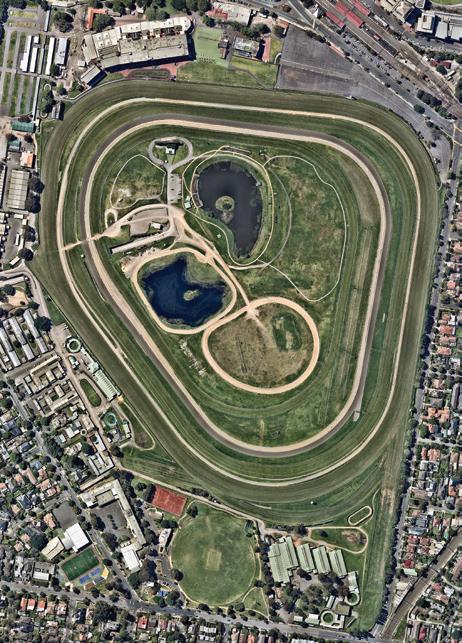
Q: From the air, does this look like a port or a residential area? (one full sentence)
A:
This looks like a residential area.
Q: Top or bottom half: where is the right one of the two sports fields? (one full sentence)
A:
The right one of the two sports fields sits in the bottom half of the picture.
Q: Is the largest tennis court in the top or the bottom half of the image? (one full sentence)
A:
Seen from above, the largest tennis court lies in the bottom half of the view.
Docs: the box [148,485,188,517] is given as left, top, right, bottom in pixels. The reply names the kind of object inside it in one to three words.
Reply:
tennis court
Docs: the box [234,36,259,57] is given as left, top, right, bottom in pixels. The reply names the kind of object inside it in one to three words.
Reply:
building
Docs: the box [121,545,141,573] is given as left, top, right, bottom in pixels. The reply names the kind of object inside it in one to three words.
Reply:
building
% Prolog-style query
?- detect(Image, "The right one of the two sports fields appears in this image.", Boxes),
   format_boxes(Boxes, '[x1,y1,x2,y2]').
[169,509,255,605]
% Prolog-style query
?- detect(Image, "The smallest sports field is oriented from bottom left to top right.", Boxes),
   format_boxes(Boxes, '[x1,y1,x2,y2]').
[60,545,100,583]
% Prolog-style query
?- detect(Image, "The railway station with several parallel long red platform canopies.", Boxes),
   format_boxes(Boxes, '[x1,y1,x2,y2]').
[317,0,417,72]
